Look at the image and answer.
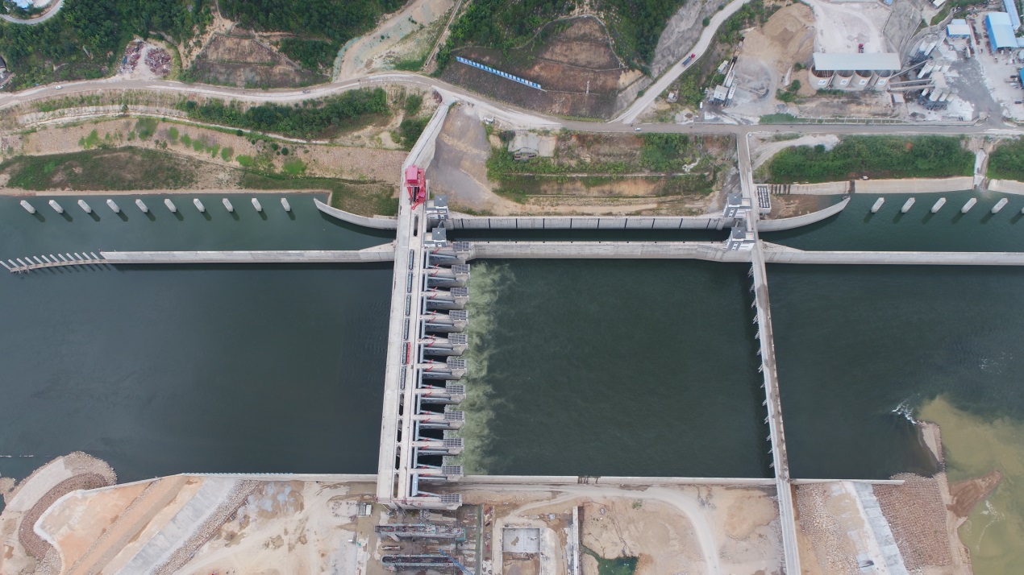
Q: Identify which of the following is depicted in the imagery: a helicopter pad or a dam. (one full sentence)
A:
The image shows a dam.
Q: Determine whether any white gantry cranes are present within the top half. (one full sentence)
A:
No, I see no white gantry crane within the top half.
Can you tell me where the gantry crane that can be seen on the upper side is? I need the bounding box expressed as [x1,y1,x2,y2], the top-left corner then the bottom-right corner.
[403,165,428,211]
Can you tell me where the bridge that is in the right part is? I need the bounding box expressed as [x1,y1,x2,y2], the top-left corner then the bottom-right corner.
[737,141,807,575]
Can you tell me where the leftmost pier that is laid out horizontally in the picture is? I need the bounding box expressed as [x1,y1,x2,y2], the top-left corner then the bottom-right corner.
[2,249,108,270]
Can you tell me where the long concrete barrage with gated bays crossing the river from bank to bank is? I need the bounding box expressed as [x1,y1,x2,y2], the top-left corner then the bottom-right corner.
[372,97,471,518]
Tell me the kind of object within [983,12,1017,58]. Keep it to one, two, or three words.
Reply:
building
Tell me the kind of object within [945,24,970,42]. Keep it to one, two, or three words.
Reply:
building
